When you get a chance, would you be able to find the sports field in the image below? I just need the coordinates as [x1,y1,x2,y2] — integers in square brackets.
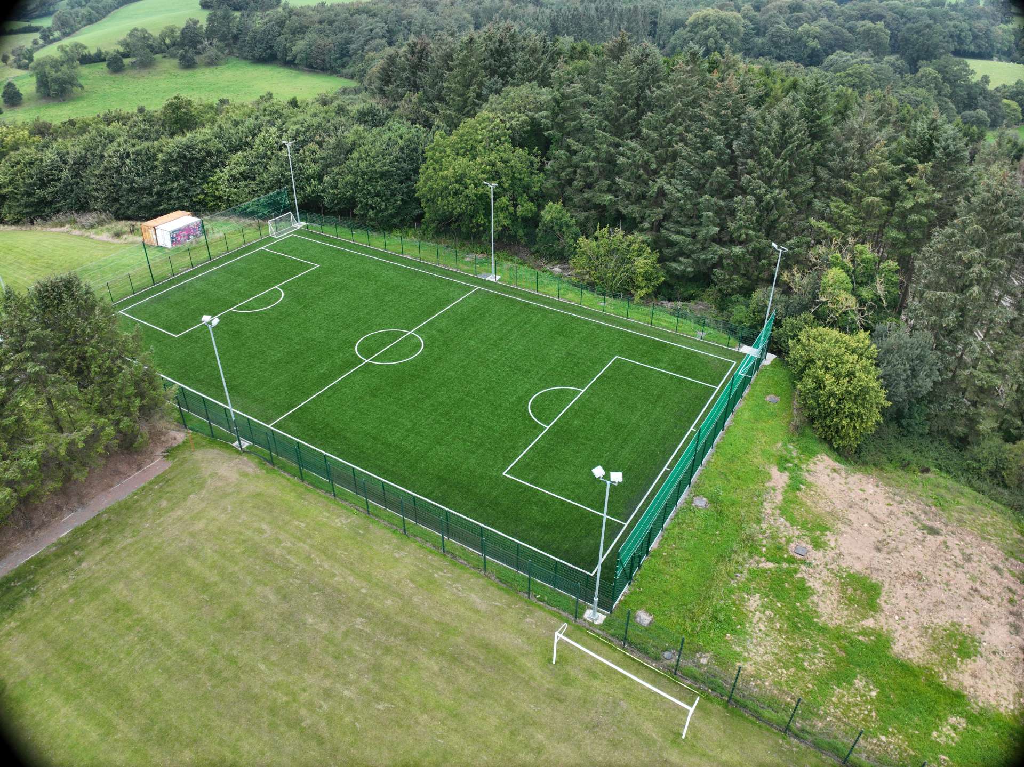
[102,225,765,616]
